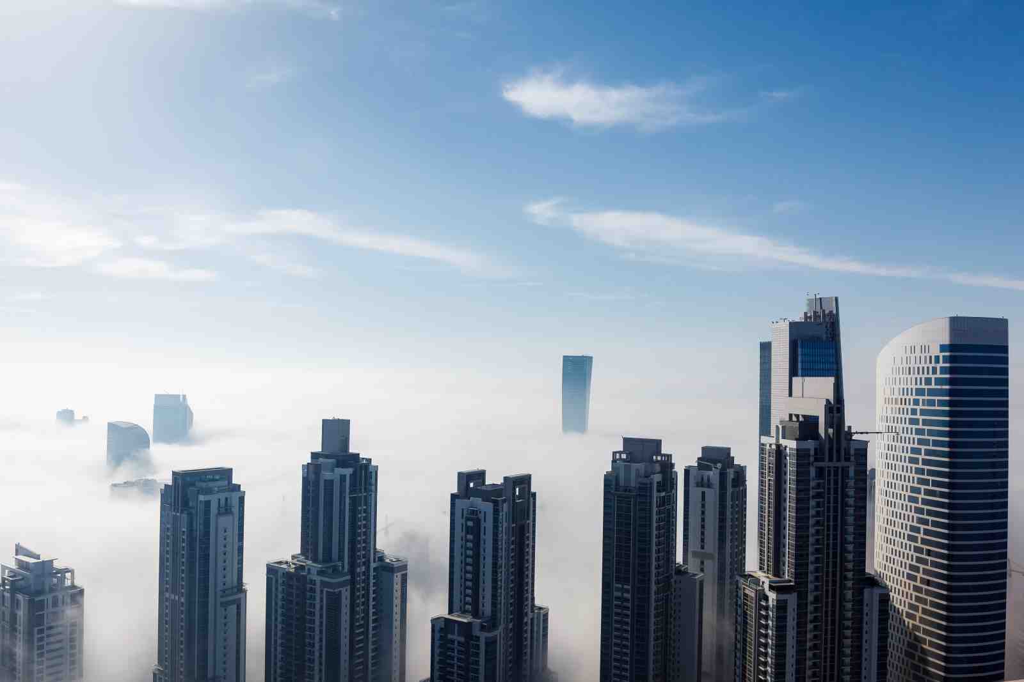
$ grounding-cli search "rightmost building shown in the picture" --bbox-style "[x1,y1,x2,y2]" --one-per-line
[872,312,1012,682]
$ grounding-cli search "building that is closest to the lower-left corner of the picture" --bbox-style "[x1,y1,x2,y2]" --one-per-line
[0,542,86,682]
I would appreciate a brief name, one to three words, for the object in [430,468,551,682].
building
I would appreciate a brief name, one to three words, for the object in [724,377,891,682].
building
